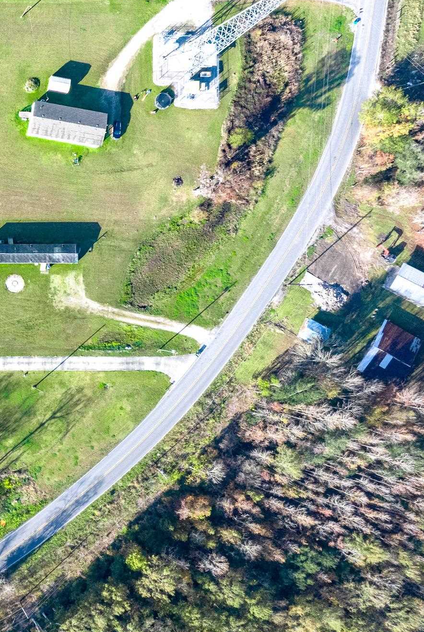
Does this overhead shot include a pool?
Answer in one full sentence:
No, I find no pool anywhere in the image.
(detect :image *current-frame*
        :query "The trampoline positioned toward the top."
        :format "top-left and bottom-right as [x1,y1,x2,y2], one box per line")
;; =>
[156,90,176,108]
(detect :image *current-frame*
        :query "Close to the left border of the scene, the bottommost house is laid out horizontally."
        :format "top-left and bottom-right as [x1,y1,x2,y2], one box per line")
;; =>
[0,236,78,274]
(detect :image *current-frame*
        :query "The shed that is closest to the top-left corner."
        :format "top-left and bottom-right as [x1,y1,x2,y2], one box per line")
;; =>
[46,77,71,96]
